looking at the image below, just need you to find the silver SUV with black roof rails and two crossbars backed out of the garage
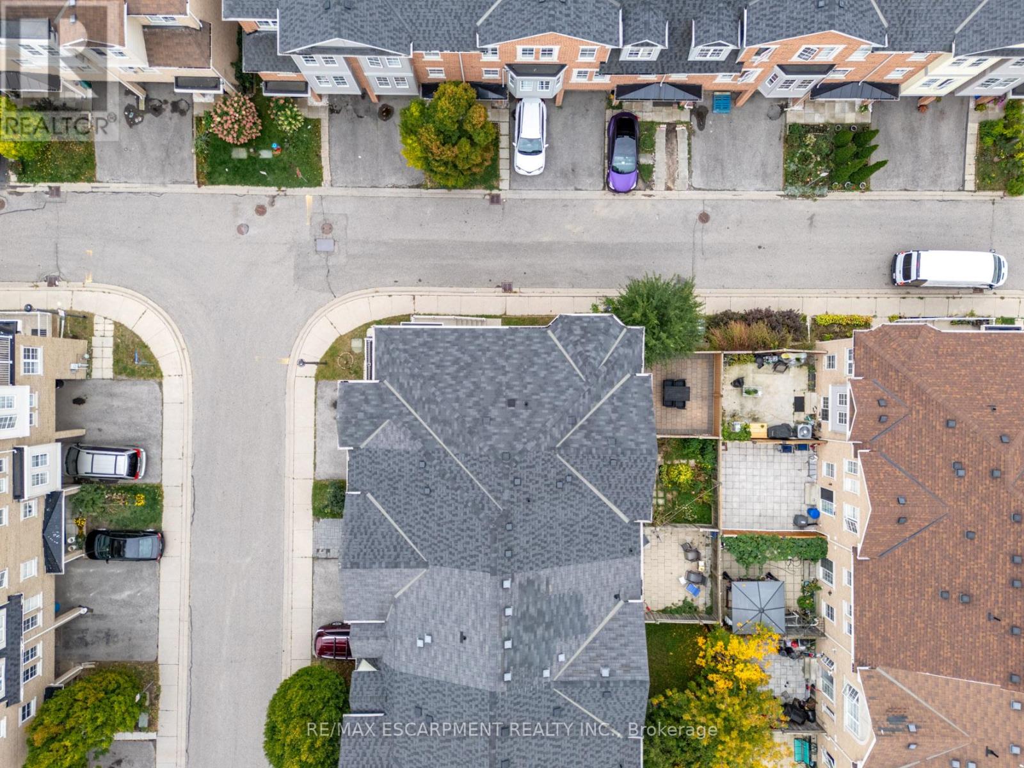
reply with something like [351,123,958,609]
[64,441,148,482]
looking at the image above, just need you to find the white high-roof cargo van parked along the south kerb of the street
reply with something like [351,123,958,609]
[898,244,1013,288]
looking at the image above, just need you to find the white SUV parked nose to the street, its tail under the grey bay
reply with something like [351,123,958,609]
[511,98,550,174]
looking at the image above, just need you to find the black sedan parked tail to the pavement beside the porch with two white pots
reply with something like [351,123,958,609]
[82,526,163,565]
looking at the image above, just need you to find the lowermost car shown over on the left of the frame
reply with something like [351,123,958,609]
[316,615,349,654]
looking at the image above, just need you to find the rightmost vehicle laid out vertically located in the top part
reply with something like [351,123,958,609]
[604,112,643,194]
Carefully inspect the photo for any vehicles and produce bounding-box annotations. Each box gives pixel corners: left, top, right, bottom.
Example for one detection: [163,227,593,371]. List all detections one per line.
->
[64,441,148,482]
[316,615,349,654]
[604,112,643,194]
[511,98,550,174]
[898,244,1013,288]
[82,526,163,565]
